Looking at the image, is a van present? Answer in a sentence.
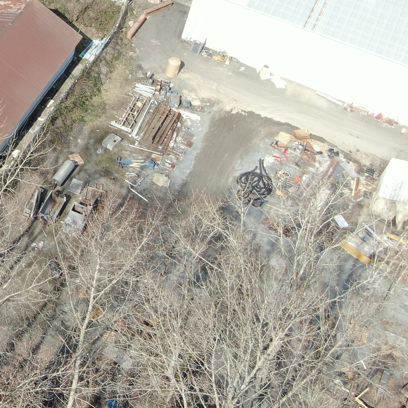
No, this view has no van in it.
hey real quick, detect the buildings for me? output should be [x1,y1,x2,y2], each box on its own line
[0,0,85,157]
[180,0,408,128]
[367,156,408,233]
